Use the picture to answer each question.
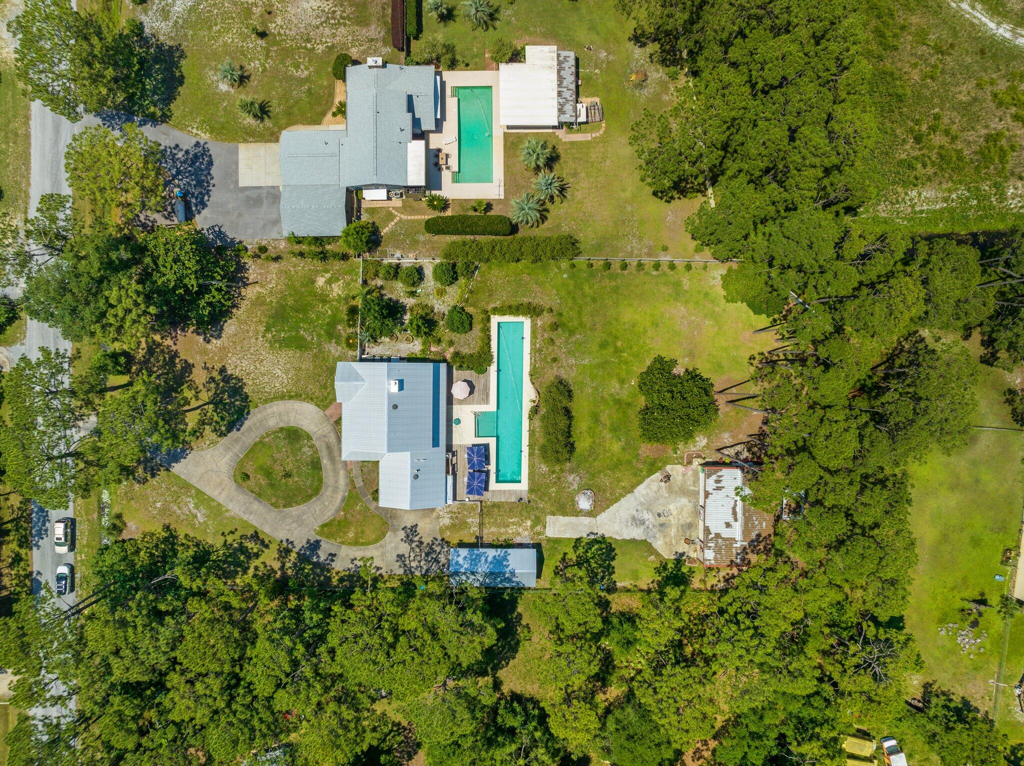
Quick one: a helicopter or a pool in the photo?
pool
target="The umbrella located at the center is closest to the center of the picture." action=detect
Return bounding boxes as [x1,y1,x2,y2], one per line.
[452,381,470,399]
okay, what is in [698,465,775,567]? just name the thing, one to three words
building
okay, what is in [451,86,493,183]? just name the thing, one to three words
swimming pool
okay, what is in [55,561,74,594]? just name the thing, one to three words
car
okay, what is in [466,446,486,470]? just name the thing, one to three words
umbrella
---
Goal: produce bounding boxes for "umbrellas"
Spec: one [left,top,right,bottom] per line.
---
[466,446,486,470]
[466,471,486,496]
[452,381,470,399]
